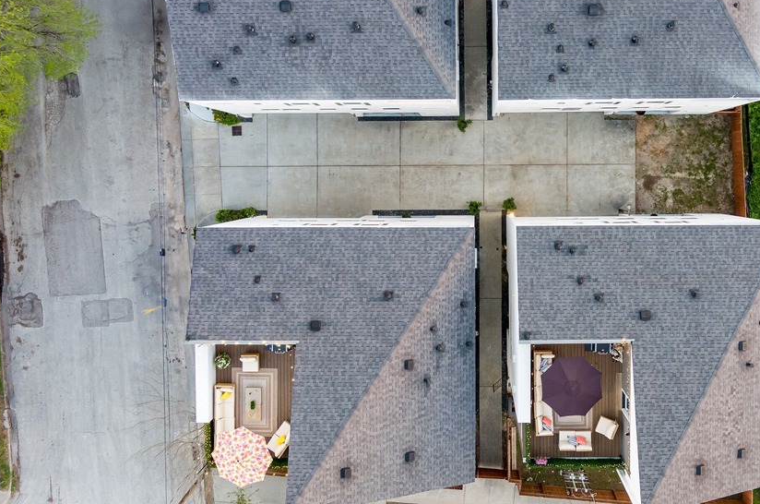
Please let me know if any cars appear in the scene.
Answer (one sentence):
No, no car can be seen from above.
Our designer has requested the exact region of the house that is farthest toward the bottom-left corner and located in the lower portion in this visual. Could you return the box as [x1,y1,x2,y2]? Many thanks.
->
[183,216,477,504]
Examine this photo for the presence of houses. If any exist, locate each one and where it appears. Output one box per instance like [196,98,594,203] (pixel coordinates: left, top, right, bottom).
[168,0,460,115]
[492,0,760,115]
[507,213,760,504]
[183,216,477,504]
